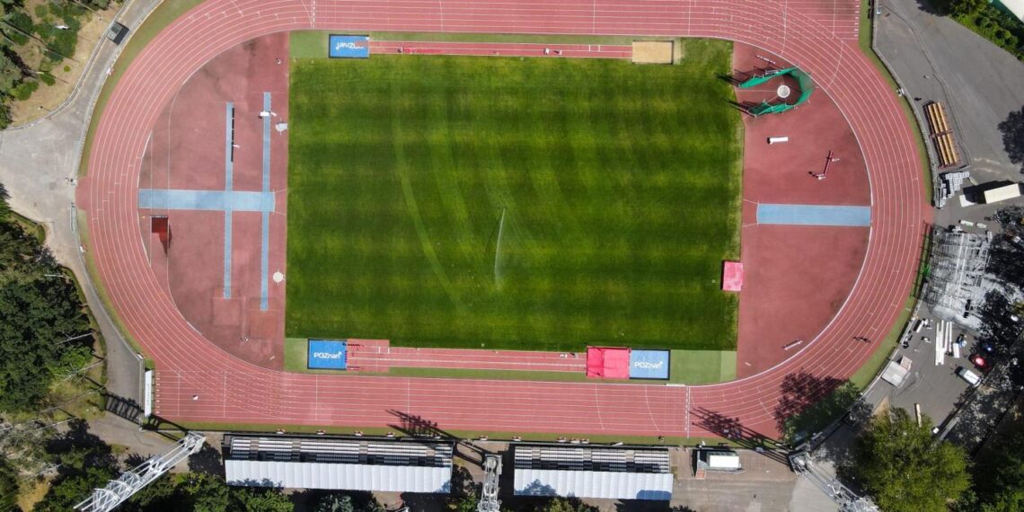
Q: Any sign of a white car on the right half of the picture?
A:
Yes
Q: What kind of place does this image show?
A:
sports ground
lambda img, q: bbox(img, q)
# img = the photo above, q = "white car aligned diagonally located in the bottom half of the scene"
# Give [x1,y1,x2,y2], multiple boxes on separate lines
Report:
[958,369,981,387]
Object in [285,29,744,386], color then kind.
green sports field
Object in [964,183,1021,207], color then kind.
white truck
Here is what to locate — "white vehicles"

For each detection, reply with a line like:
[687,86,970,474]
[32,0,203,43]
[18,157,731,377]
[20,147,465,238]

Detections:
[958,369,981,387]
[964,183,1021,207]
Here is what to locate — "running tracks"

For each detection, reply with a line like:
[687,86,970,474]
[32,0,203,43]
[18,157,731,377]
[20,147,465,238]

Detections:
[76,0,934,437]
